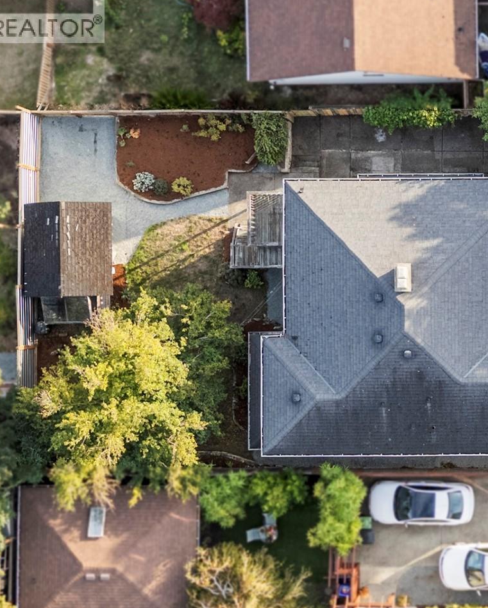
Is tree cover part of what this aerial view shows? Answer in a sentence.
Yes, the picture does contain tree cover.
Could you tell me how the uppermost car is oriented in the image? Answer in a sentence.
The uppermost car is laid out from left to right.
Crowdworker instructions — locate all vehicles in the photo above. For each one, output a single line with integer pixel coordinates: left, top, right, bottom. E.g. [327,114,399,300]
[373,480,473,529]
[445,540,488,594]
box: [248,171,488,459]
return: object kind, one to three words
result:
house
